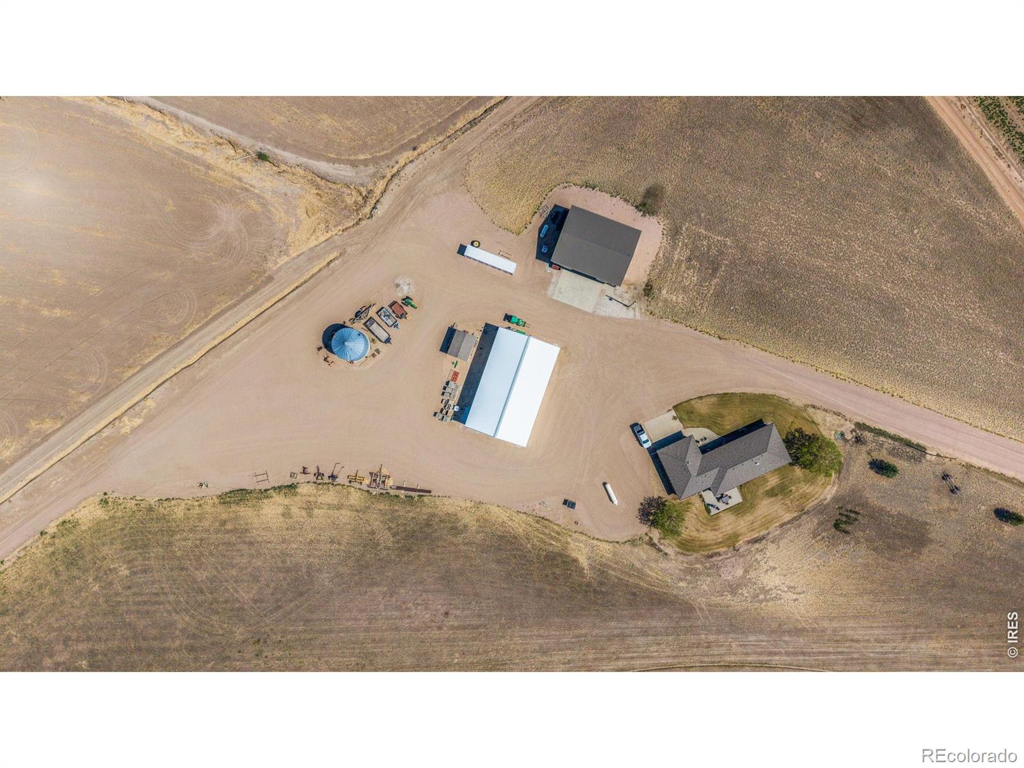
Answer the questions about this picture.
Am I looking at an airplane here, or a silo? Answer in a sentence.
Visible in the photo is a silo.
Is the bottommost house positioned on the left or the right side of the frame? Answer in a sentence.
The bottommost house appears in the right half of the scene.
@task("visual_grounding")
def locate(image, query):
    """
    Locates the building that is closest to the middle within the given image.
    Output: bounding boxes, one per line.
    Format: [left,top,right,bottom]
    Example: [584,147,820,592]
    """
[465,327,560,446]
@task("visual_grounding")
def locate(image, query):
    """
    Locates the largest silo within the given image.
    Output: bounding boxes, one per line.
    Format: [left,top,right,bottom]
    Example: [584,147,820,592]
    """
[331,327,371,363]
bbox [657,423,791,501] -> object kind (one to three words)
house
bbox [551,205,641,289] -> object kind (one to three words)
building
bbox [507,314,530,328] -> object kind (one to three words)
work vehicle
